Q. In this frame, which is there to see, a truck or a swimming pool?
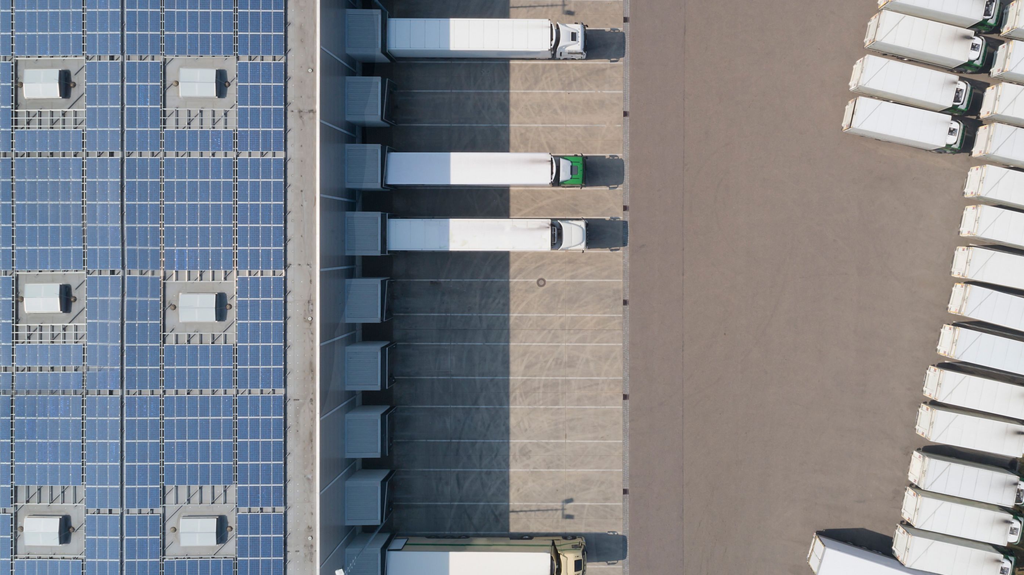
truck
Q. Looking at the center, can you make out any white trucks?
Yes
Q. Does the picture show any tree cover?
No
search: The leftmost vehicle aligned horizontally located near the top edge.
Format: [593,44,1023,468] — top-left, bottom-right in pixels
[388,18,590,61]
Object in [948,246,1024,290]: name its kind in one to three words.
truck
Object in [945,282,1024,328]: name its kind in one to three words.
truck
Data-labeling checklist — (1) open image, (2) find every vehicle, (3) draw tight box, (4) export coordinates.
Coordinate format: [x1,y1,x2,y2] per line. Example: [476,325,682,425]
[388,150,590,189]
[934,323,1024,373]
[897,485,1024,547]
[889,523,1016,575]
[975,82,1024,128]
[984,40,1024,86]
[862,10,989,74]
[388,18,590,61]
[995,0,1024,42]
[388,215,590,254]
[920,364,1024,417]
[878,0,1003,34]
[838,96,964,157]
[948,246,1024,290]
[967,123,1024,169]
[945,282,1024,328]
[960,164,1024,209]
[388,534,590,575]
[955,204,1024,248]
[845,54,972,118]
[912,402,1024,459]
[904,449,1024,510]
